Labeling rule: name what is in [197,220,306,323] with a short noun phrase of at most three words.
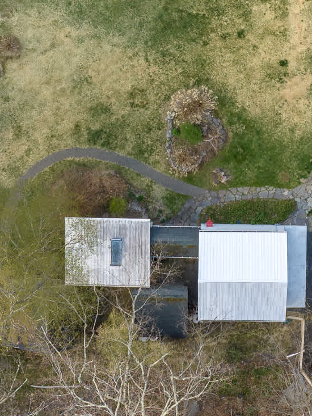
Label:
building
